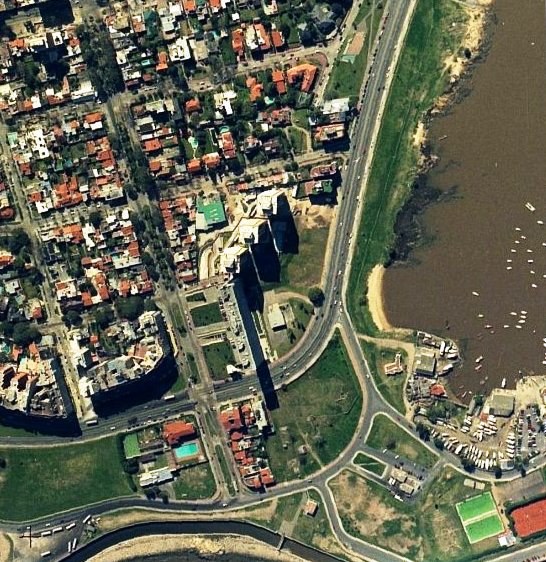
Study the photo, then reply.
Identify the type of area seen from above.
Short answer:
residential area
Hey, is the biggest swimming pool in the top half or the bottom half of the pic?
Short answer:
bottom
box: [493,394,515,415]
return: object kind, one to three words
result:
shed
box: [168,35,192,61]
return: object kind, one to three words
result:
house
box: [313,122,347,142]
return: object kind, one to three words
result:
building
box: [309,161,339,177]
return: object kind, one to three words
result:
building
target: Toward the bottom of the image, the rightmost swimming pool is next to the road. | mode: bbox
[172,439,203,466]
